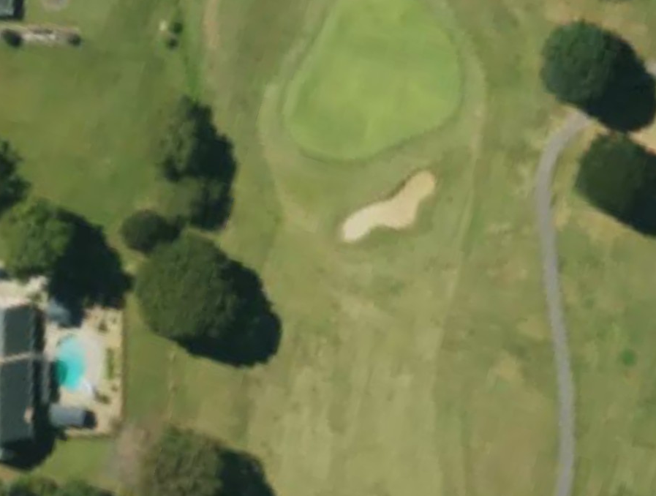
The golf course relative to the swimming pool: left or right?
right of it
